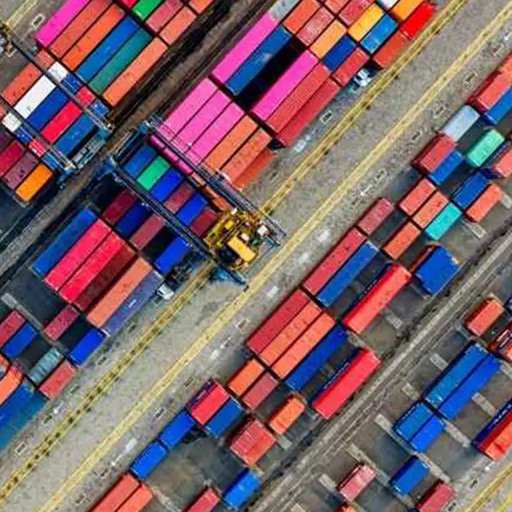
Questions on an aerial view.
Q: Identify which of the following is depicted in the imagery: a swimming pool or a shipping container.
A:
shipping container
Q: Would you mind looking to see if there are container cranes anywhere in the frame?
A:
Yes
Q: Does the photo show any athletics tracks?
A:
No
